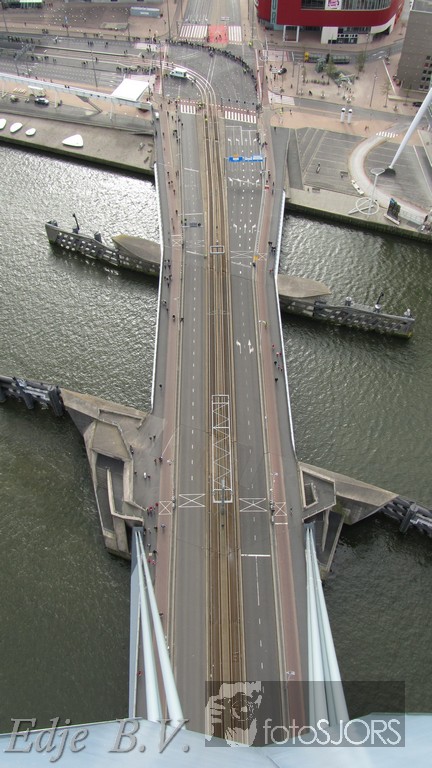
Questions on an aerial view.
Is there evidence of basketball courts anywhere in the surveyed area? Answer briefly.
No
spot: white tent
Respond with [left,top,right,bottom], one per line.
[112,79,152,102]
